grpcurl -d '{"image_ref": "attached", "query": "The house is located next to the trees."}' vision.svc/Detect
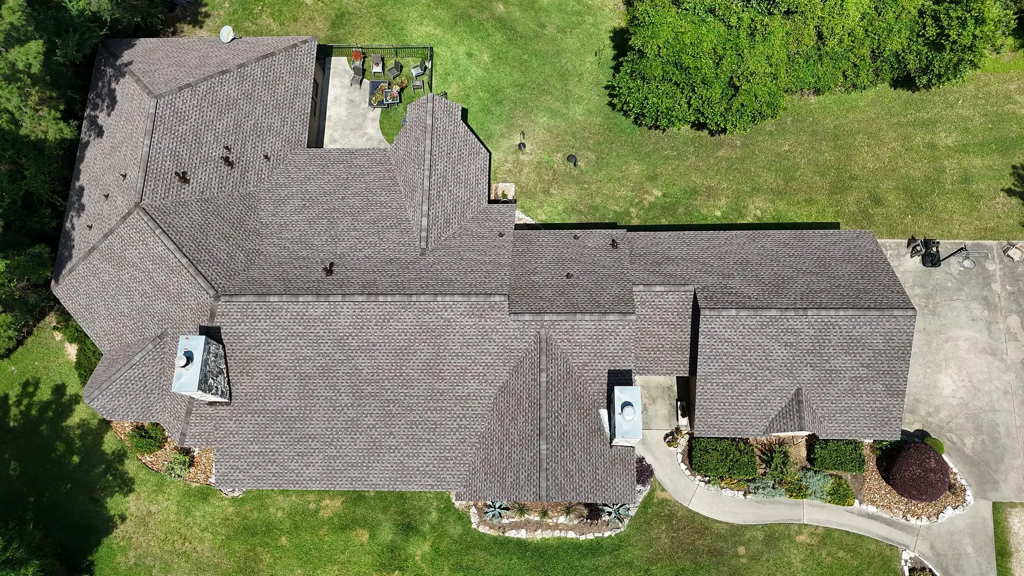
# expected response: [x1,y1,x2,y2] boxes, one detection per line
[51,36,919,503]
